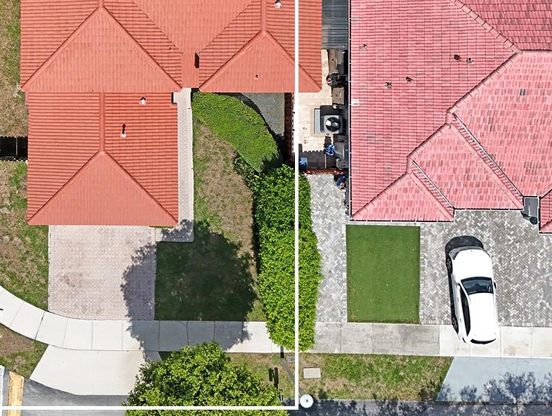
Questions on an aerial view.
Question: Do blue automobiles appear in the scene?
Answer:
No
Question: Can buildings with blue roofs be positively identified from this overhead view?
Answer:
No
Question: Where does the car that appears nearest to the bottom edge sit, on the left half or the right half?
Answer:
right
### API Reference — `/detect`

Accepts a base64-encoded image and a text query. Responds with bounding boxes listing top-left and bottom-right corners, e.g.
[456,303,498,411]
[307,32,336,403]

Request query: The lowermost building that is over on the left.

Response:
[25,92,189,228]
